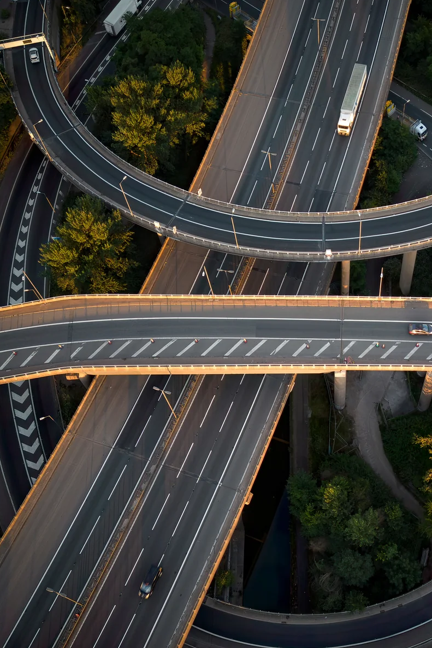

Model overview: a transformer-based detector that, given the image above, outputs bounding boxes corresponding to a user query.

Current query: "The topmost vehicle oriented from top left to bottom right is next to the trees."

[228,1,260,34]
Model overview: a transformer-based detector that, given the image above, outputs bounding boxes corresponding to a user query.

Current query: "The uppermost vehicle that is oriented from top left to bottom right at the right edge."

[388,104,429,141]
